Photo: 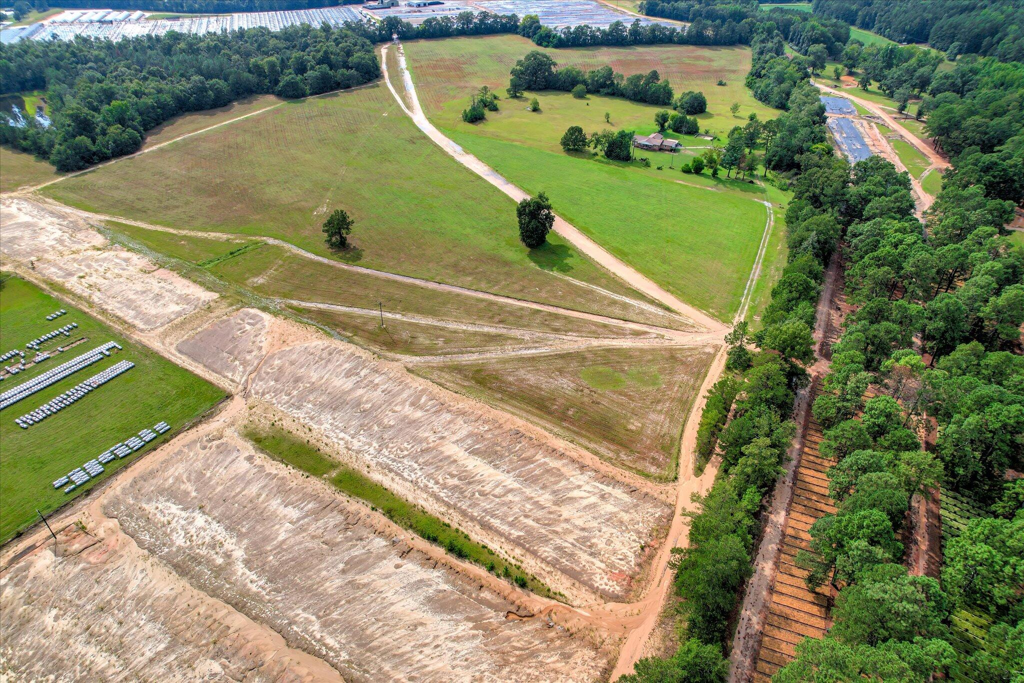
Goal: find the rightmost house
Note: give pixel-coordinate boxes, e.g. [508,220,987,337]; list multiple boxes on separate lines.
[634,134,680,152]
